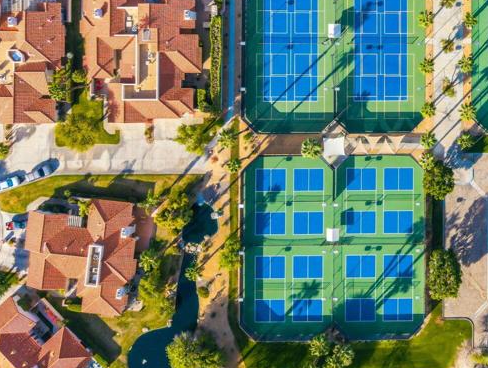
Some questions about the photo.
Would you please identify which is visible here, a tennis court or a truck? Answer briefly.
tennis court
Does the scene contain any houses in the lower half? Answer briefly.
Yes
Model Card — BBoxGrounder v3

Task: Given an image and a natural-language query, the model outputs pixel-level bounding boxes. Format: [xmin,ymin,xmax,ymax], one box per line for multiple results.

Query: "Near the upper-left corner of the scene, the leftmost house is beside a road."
[0,0,71,125]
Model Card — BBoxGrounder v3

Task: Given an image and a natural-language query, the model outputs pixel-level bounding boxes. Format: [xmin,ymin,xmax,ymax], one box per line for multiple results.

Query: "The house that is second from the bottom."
[26,199,142,317]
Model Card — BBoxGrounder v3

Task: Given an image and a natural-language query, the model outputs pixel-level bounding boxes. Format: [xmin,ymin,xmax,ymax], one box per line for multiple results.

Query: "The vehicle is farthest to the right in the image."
[27,163,53,179]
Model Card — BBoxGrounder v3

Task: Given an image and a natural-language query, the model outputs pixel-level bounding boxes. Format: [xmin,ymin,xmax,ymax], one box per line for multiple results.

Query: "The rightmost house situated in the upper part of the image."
[81,0,206,124]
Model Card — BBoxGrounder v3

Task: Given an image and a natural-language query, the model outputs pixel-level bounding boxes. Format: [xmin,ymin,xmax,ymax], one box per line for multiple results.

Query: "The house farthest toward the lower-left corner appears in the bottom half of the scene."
[0,295,94,368]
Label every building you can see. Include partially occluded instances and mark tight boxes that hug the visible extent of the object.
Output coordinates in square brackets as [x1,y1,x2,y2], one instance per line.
[0,0,71,125]
[81,0,206,124]
[0,295,94,368]
[26,199,142,317]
